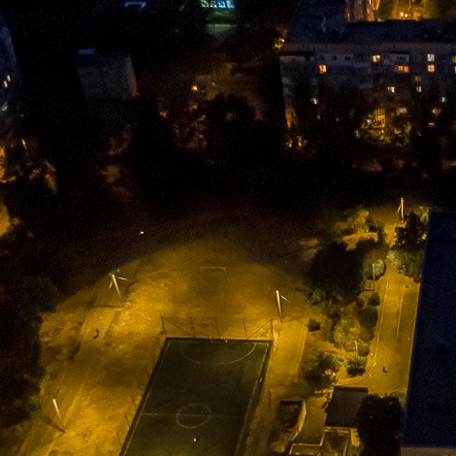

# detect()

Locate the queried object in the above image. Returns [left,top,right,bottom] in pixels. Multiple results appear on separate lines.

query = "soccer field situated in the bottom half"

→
[118,335,273,456]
